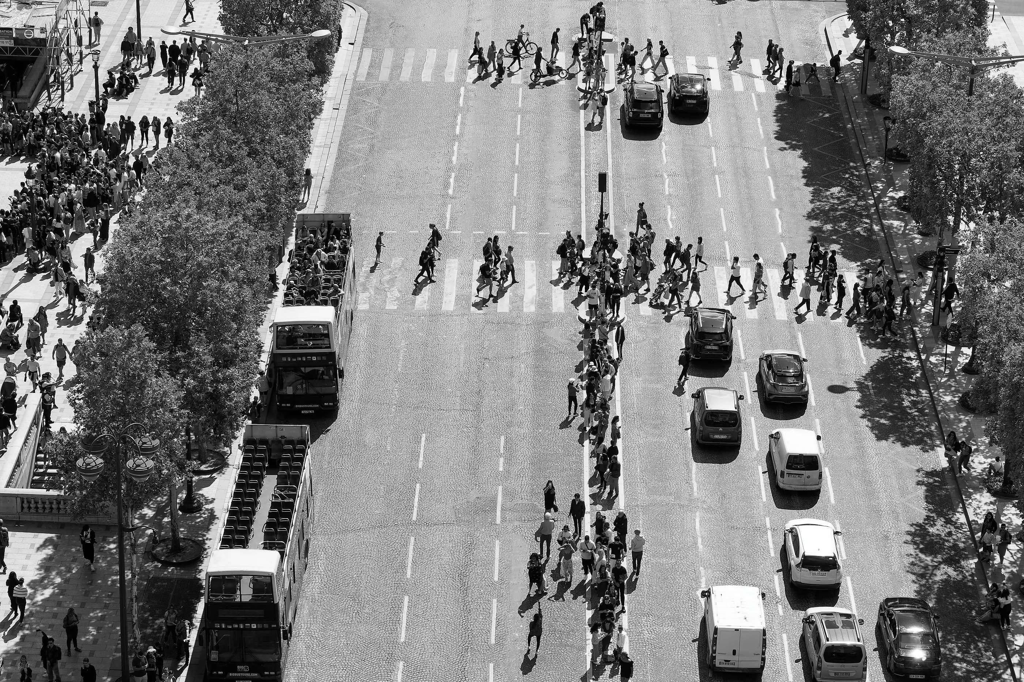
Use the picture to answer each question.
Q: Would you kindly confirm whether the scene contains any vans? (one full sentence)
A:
Yes, there's a van down there.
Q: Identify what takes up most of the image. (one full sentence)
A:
The bulk of the photo consists of paved ground.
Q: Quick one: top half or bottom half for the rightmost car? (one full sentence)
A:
You can find the rightmost car in the bottom half.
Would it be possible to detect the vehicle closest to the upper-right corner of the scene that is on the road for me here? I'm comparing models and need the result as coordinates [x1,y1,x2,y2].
[667,72,709,113]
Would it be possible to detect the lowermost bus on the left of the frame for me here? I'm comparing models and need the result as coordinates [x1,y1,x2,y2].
[196,421,312,682]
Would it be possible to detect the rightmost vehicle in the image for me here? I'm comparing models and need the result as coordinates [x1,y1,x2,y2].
[875,602,941,681]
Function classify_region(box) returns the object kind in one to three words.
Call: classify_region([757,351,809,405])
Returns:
car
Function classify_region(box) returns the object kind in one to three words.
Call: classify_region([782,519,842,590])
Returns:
car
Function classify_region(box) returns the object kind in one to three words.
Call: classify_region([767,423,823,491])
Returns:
van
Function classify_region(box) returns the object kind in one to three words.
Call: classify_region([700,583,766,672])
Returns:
van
